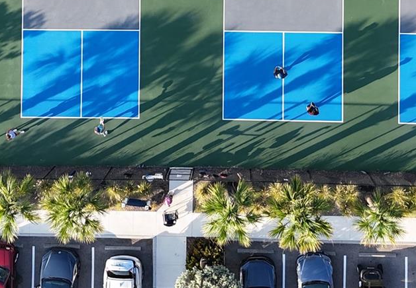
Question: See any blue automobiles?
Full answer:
Yes, I can see a blue automobile in this picture.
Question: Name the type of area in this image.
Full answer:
It's a sports ground.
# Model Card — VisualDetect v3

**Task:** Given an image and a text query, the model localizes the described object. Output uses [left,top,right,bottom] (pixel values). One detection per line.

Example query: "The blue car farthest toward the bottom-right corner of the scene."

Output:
[289,251,331,288]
